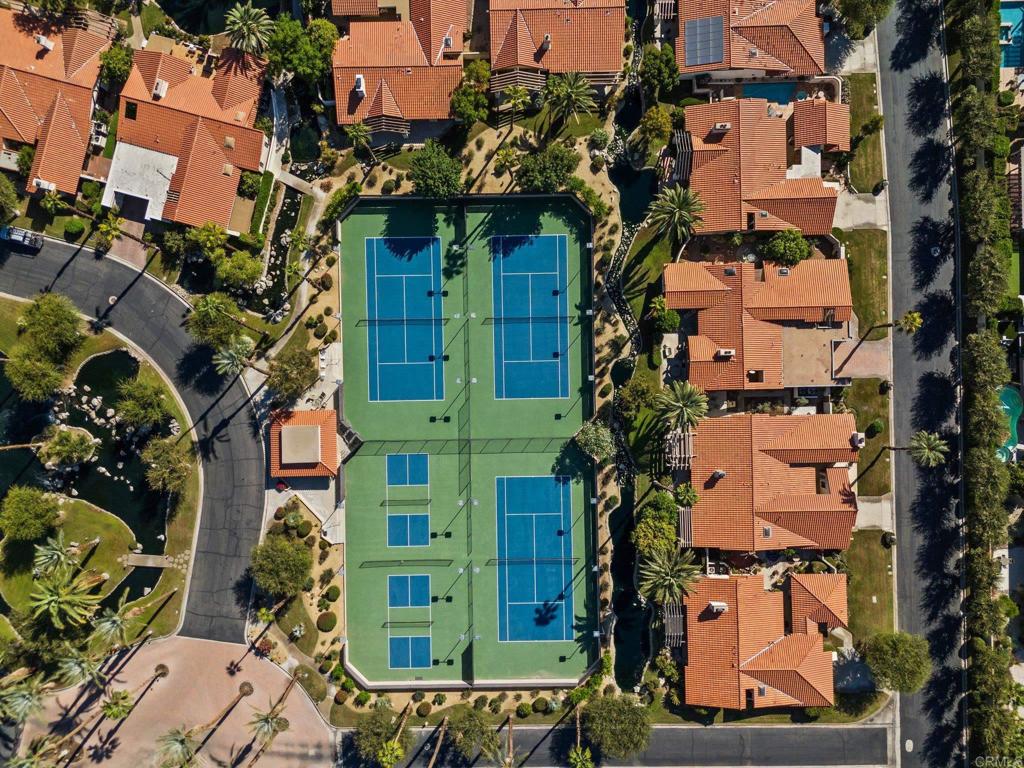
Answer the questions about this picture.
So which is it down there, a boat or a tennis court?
tennis court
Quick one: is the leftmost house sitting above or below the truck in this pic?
above it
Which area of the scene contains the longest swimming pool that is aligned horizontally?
top right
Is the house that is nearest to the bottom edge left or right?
right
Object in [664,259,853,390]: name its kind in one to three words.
house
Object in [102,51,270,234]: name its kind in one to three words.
house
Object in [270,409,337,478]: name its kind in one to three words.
building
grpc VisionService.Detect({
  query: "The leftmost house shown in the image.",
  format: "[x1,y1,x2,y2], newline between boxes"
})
[0,8,113,194]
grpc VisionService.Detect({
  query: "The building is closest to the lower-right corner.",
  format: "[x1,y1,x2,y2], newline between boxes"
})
[684,573,849,709]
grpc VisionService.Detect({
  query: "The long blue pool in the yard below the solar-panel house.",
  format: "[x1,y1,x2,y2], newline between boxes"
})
[740,80,800,108]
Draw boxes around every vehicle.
[0,225,42,249]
